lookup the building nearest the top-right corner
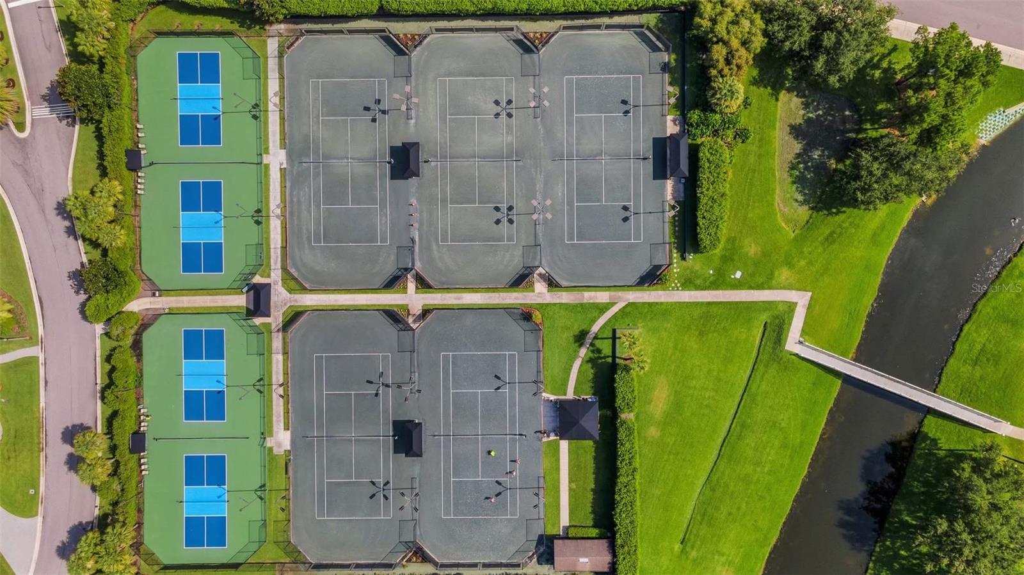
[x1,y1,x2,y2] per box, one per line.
[665,133,689,178]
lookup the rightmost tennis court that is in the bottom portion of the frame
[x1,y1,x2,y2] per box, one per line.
[415,307,545,563]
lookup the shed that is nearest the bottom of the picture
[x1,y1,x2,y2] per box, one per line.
[554,535,613,572]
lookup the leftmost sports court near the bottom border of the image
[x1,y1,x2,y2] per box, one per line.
[143,439,267,564]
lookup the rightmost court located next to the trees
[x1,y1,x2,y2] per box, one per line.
[540,29,670,287]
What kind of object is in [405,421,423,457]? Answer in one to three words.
building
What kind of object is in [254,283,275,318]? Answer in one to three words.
building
